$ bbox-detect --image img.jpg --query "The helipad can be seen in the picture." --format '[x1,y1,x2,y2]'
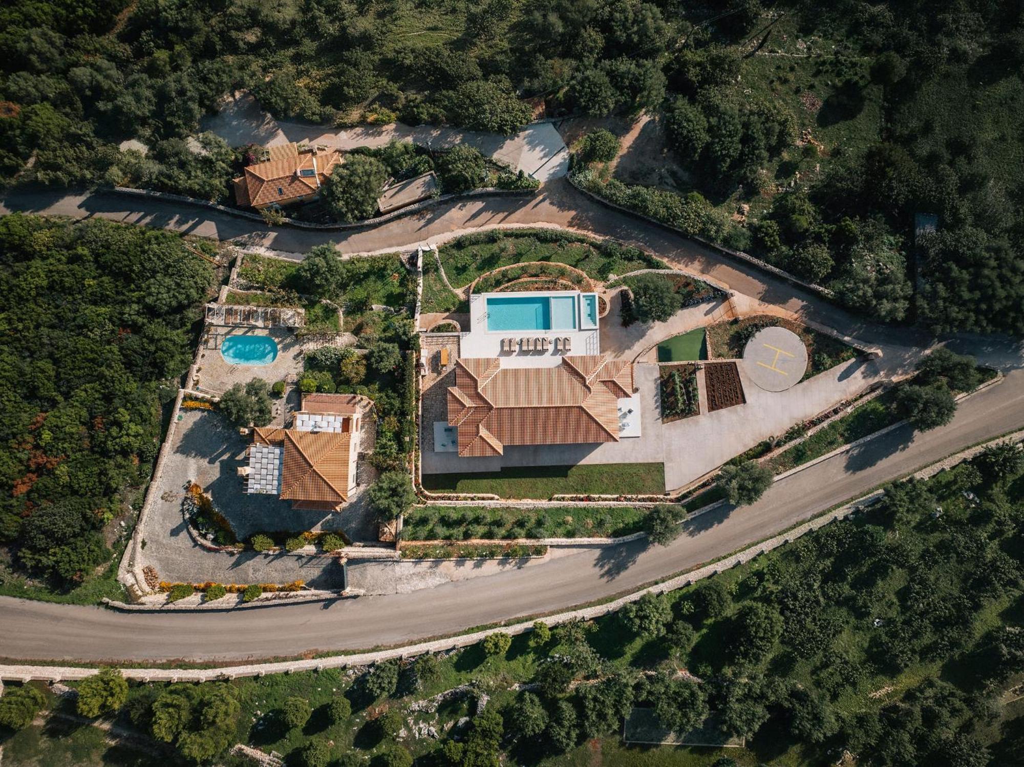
[742,327,807,391]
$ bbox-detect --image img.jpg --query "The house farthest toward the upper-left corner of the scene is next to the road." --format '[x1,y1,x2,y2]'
[232,142,346,211]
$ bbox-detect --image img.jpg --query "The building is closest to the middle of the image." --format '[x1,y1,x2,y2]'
[447,355,633,456]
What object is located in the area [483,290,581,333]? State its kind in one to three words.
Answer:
swimming pool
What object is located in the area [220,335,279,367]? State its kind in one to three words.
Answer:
swimming pool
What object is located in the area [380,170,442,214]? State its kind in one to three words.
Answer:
building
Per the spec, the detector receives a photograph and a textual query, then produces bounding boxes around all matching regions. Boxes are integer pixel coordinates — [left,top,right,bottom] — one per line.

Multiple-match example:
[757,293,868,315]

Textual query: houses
[235,392,379,512]
[232,142,346,211]
[447,355,633,456]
